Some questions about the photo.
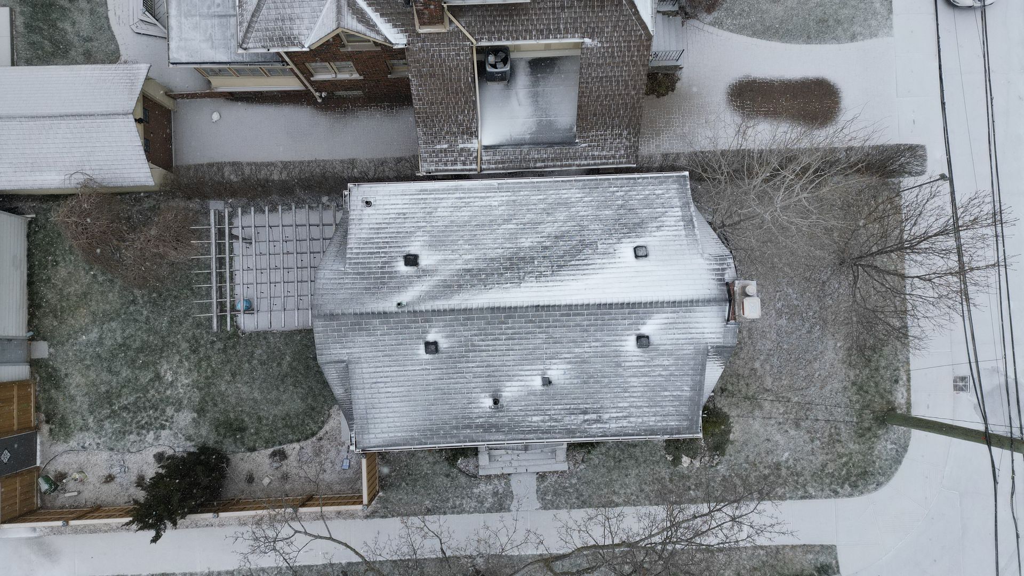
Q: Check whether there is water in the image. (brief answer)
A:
No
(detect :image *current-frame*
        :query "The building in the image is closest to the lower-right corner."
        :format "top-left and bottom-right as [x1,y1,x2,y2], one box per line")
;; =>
[312,168,766,456]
